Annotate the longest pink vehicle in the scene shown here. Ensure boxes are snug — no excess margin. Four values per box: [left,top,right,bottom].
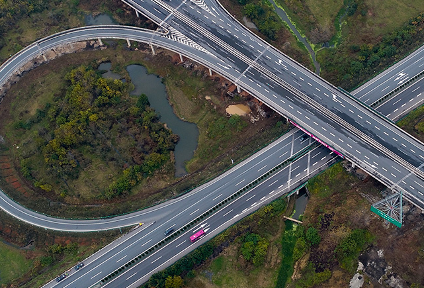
[189,229,205,241]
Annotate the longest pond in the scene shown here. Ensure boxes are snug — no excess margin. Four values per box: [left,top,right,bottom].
[128,63,198,176]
